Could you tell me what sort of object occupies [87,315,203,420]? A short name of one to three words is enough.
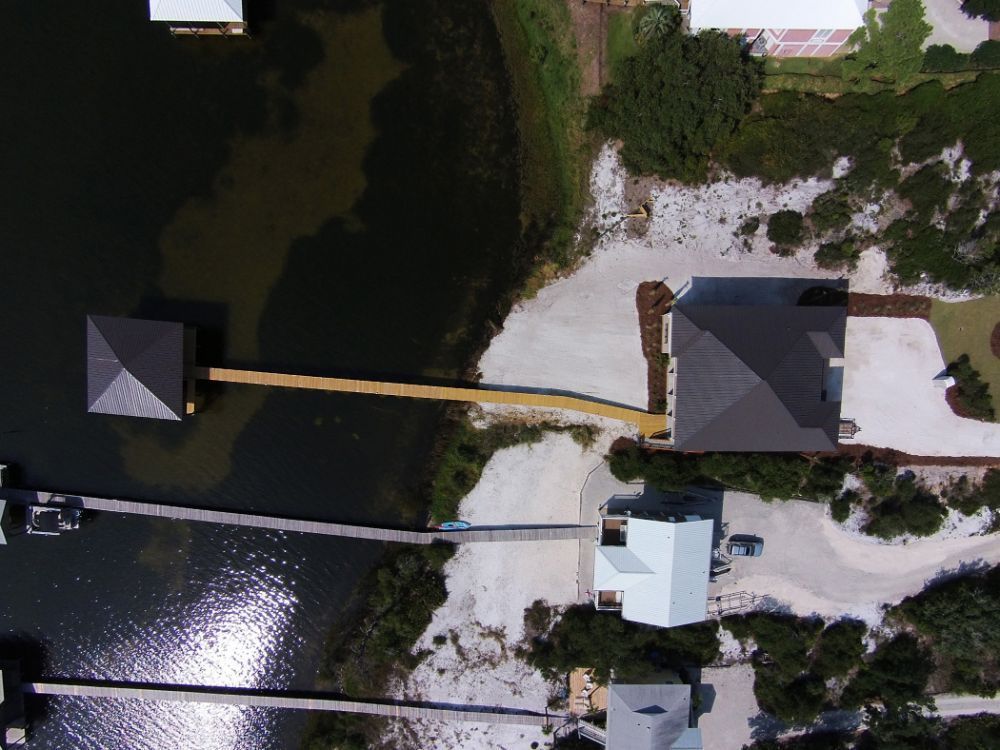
building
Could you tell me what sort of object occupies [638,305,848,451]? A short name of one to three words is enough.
house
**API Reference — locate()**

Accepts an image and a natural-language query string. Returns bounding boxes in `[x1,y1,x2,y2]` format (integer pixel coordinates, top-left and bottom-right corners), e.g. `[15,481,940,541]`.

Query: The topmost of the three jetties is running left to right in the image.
[192,367,639,430]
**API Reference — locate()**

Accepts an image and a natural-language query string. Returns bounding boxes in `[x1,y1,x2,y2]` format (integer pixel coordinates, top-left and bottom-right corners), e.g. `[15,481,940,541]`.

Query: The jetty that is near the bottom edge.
[27,680,575,729]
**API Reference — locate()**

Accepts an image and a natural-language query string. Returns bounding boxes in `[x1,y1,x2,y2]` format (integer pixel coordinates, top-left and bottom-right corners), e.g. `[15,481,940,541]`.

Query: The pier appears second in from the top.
[0,488,595,545]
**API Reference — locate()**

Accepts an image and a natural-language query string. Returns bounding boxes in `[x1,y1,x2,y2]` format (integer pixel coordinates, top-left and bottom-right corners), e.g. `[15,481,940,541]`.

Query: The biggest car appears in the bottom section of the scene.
[727,541,764,561]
